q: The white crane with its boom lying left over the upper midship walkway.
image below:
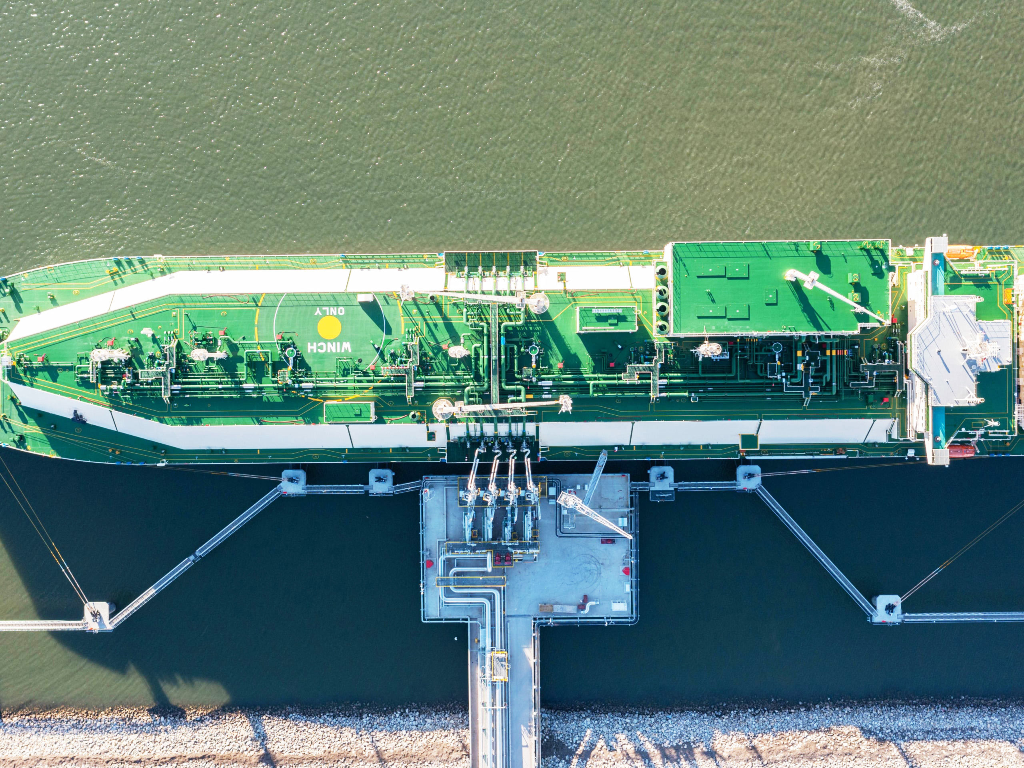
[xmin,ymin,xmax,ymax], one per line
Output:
[416,291,550,317]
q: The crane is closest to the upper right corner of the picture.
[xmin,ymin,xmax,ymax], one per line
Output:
[782,270,891,327]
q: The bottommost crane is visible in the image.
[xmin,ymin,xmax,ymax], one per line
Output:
[552,485,632,539]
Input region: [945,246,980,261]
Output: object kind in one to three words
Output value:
boat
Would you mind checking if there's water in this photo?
Yes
